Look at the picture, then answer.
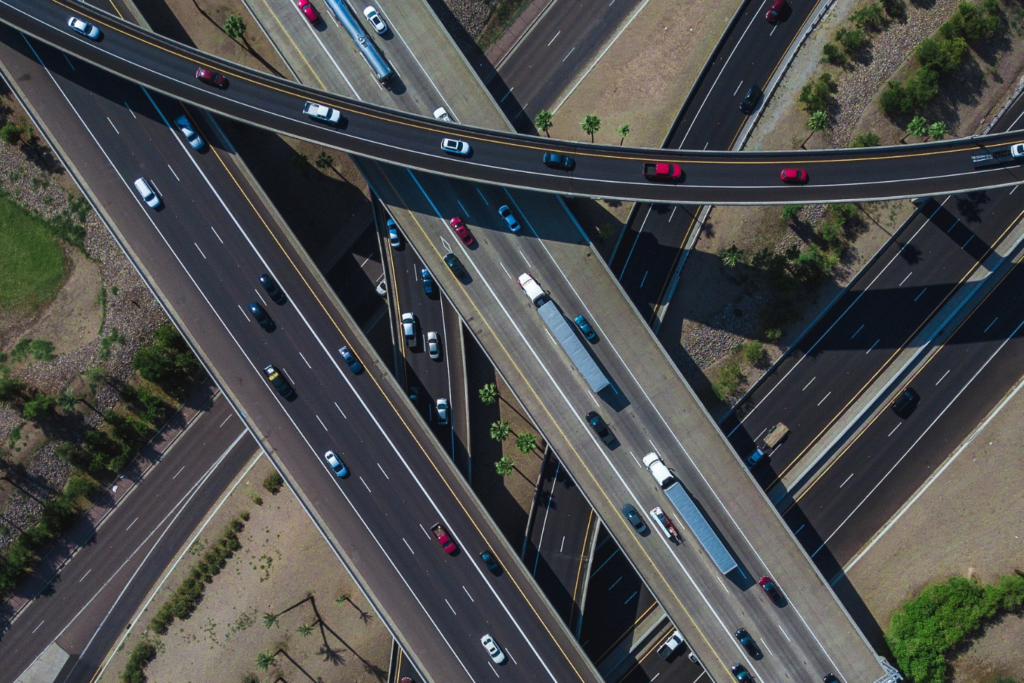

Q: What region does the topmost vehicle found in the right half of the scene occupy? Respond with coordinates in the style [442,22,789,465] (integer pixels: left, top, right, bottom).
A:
[764,0,786,24]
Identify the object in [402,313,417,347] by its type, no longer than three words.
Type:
vehicle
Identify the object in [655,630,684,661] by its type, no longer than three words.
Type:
truck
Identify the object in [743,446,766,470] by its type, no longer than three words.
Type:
car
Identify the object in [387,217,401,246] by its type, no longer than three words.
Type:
car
